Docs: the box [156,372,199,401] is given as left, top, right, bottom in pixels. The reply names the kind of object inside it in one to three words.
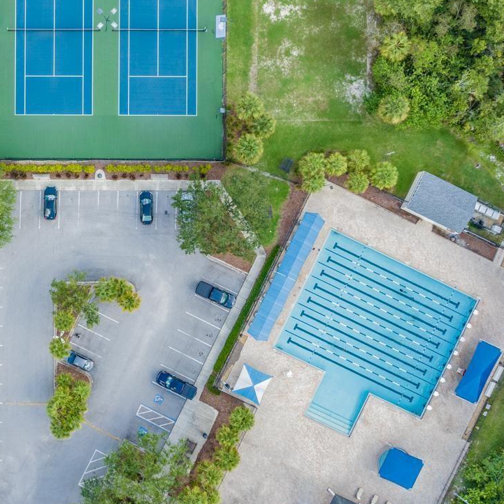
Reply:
truck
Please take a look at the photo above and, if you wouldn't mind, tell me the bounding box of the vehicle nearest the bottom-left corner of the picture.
[64,350,96,373]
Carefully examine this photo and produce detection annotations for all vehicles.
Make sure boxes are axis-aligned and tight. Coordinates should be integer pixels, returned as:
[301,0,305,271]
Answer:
[139,191,155,225]
[43,185,58,219]
[195,280,238,309]
[64,350,96,373]
[156,372,199,401]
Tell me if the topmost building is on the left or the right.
right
